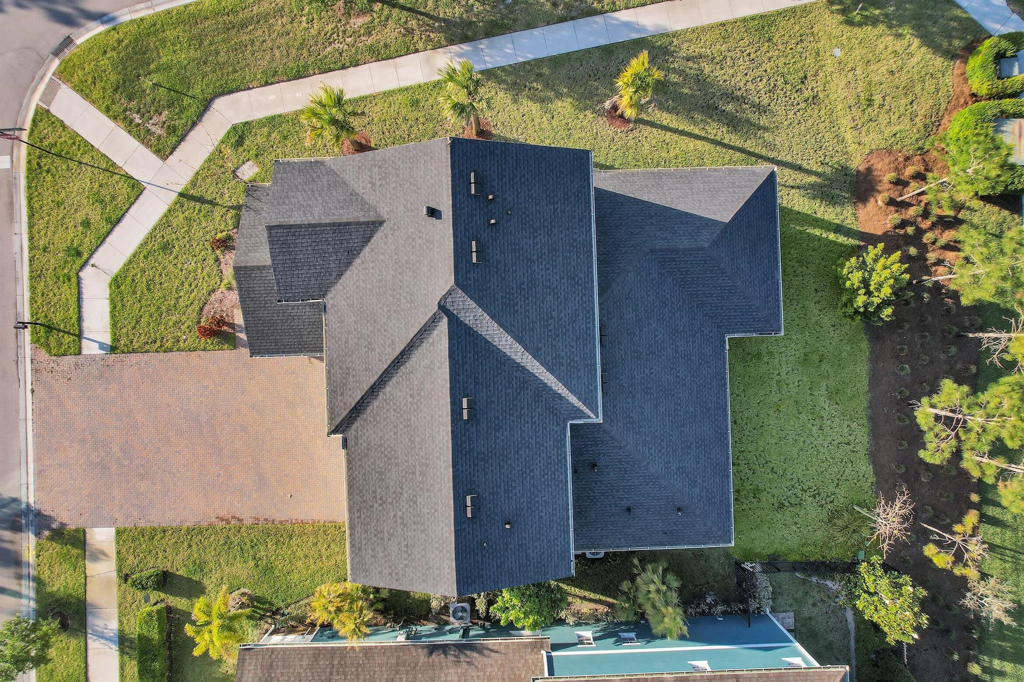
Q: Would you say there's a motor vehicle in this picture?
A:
No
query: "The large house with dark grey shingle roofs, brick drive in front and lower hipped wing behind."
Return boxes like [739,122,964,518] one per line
[232,137,787,597]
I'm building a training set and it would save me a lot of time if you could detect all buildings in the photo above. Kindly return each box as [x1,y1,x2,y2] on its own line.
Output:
[230,614,850,682]
[232,137,787,597]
